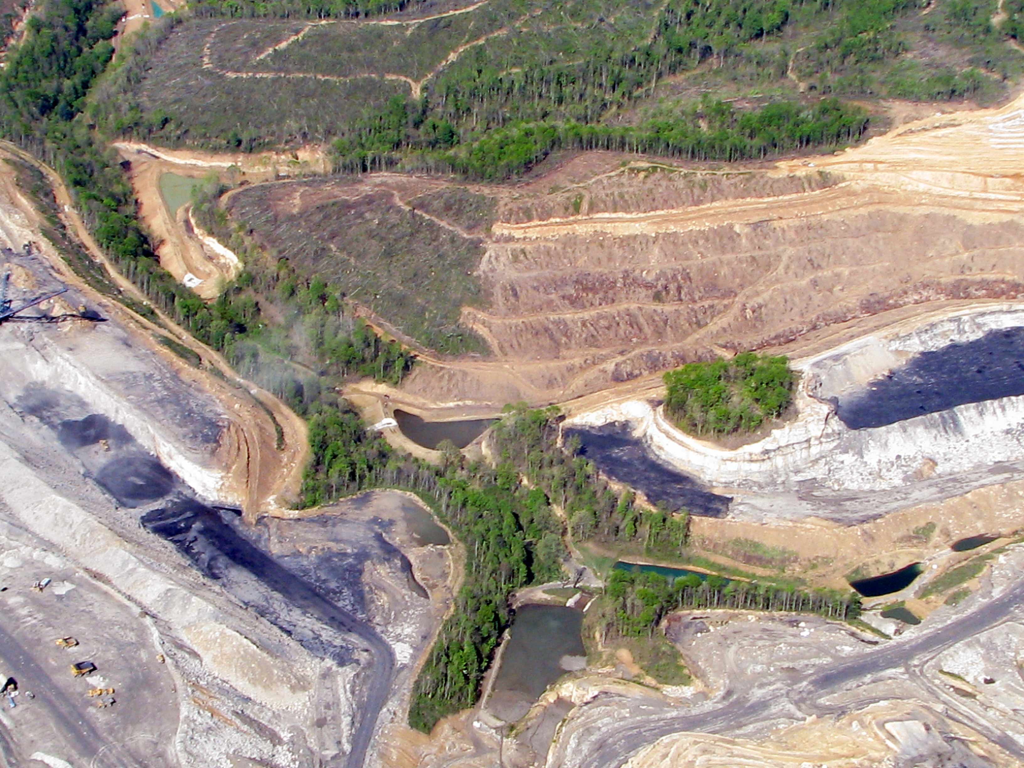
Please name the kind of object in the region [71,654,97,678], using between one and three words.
truck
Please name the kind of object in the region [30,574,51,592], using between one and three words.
vehicle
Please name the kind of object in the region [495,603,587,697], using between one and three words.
pond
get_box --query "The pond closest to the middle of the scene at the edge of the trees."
[394,409,499,449]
